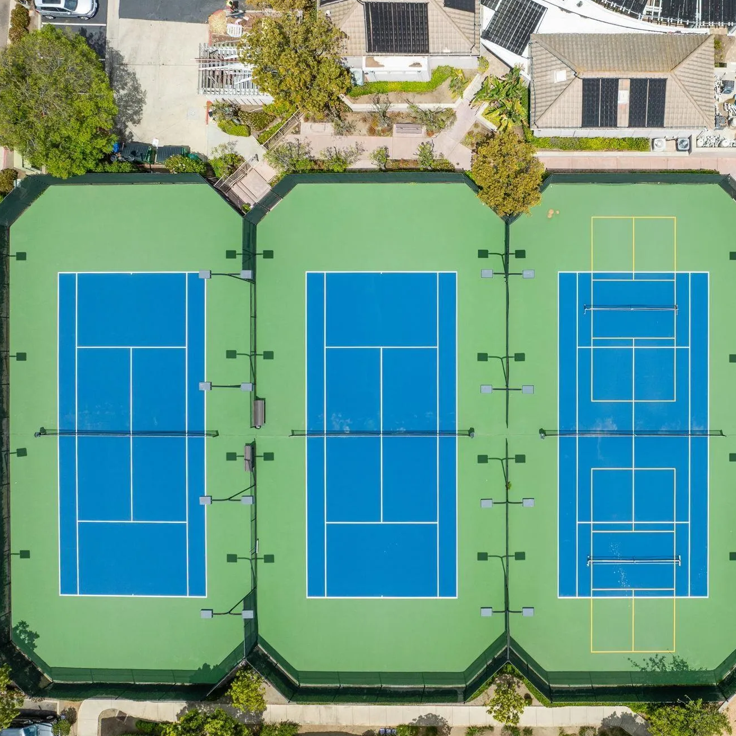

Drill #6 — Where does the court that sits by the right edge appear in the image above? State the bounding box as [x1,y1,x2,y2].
[509,183,736,686]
